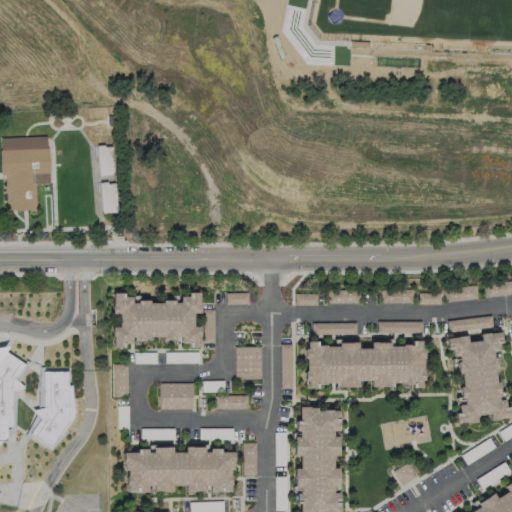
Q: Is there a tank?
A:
No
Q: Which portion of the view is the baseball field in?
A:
top right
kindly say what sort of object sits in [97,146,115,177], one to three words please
building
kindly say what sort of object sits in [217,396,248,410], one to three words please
building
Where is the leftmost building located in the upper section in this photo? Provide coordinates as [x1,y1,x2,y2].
[2,137,50,210]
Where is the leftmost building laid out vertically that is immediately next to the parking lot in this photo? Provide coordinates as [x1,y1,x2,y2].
[297,408,344,512]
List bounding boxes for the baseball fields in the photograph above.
[310,0,512,44]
